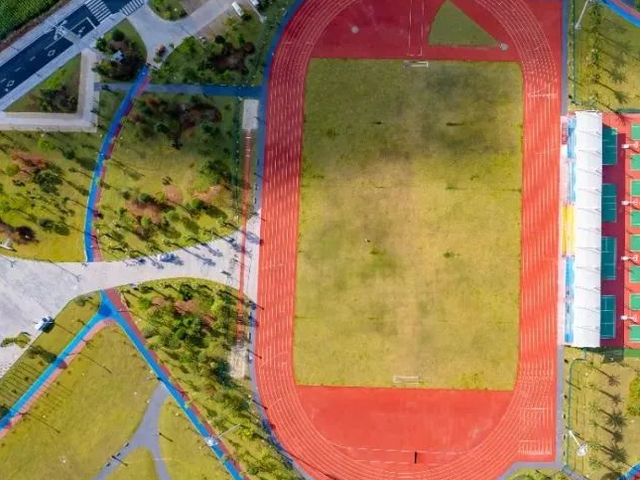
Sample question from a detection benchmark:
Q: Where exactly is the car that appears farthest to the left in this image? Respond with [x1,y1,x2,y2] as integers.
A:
[38,317,52,329]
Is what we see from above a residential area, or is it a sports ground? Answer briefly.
sports ground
